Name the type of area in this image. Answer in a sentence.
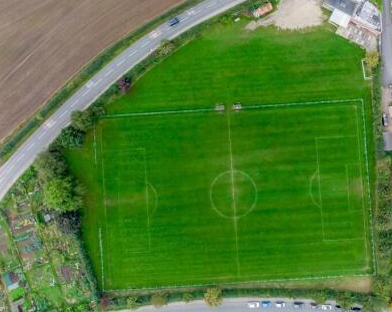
The picture captures a sports ground.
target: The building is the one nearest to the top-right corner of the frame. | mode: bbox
[322,0,382,35]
